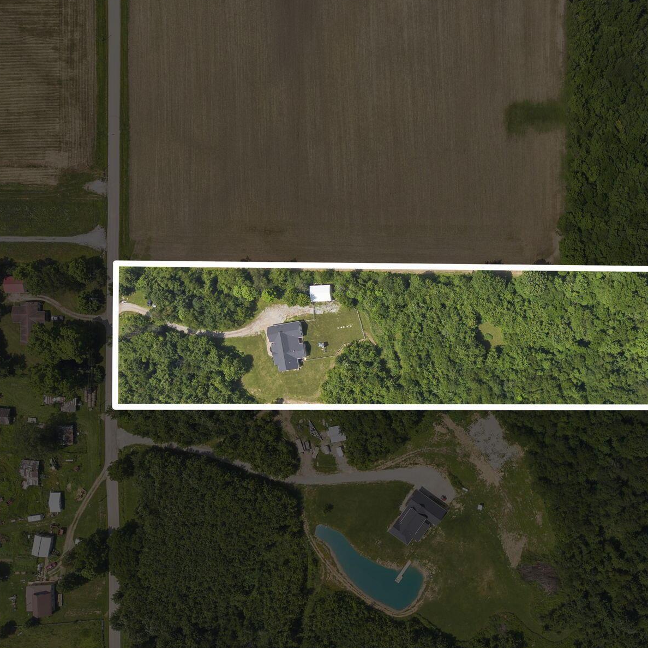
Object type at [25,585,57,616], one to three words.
house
